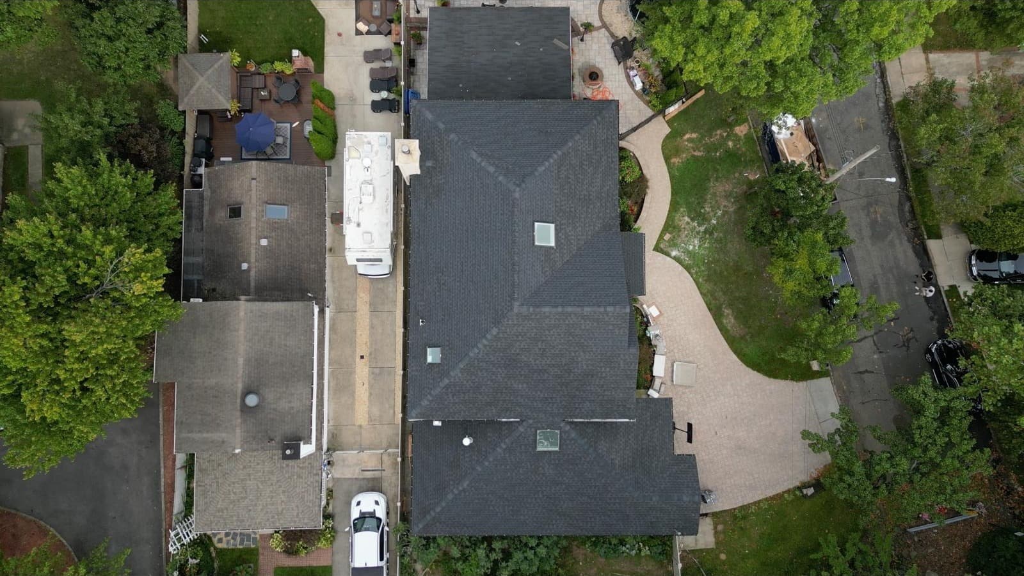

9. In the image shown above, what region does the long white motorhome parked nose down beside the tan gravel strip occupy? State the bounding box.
[345,130,399,279]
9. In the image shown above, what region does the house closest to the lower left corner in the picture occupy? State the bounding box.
[153,160,330,534]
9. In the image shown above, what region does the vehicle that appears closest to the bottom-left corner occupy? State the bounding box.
[345,490,391,576]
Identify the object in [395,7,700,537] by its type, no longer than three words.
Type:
house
